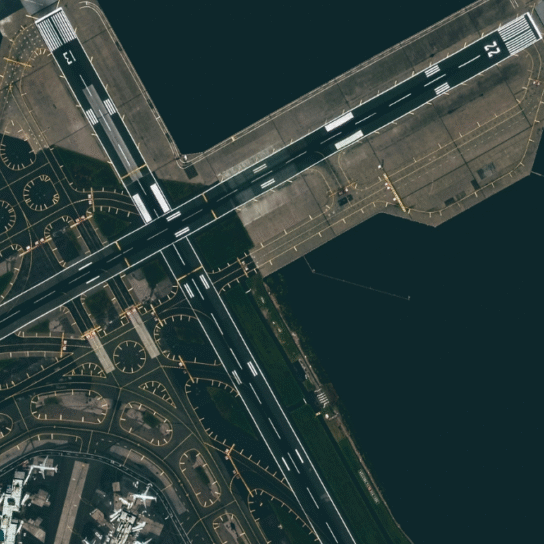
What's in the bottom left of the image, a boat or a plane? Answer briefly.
plane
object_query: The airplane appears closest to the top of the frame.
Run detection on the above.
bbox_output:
[32,457,58,481]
